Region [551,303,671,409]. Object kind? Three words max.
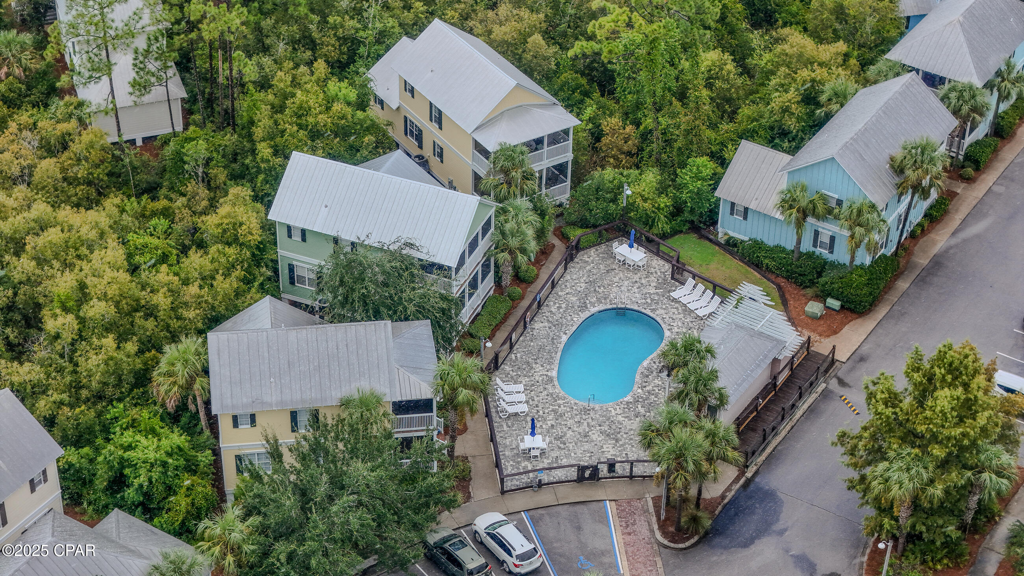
swimming pool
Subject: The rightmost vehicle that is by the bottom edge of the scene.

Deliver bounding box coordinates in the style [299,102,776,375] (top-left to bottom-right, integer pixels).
[469,510,547,576]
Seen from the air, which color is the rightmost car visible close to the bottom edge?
white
